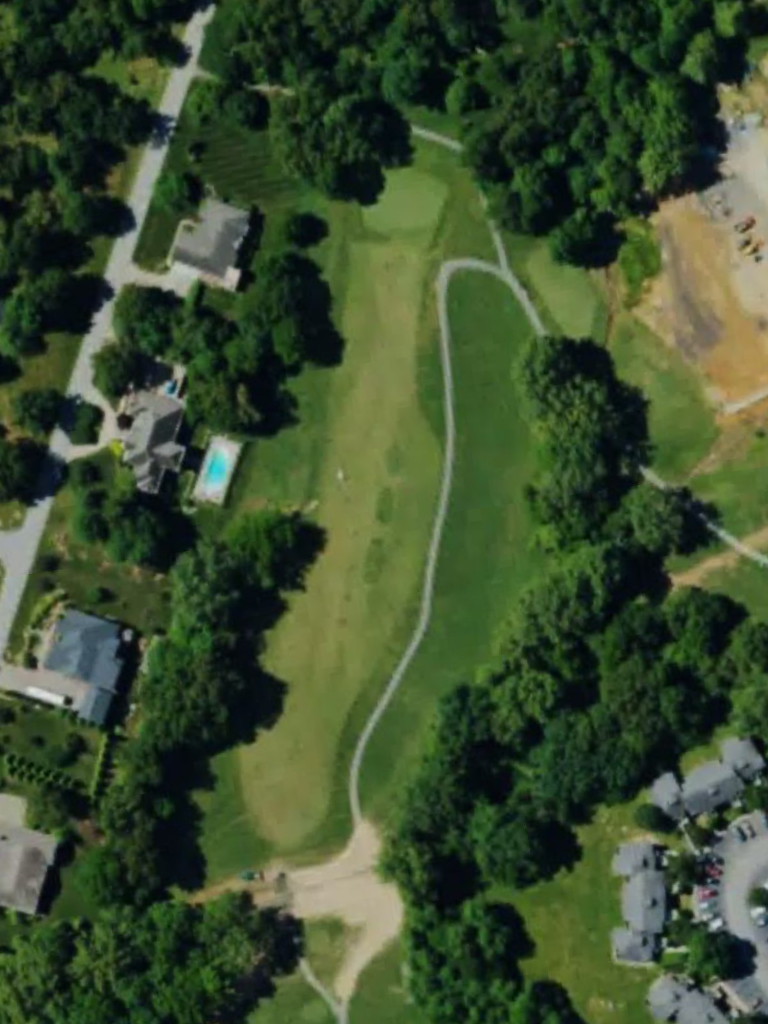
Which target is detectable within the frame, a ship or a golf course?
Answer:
golf course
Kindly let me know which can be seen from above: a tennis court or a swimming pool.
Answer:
swimming pool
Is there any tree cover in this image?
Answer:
Yes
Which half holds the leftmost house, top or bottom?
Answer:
bottom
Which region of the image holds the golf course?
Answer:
center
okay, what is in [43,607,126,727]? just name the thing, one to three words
house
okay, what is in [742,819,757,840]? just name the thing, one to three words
car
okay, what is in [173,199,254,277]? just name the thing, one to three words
house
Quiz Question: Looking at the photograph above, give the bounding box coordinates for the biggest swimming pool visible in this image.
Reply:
[192,436,242,504]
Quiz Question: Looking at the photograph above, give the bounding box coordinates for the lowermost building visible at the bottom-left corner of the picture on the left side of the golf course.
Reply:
[0,820,63,915]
